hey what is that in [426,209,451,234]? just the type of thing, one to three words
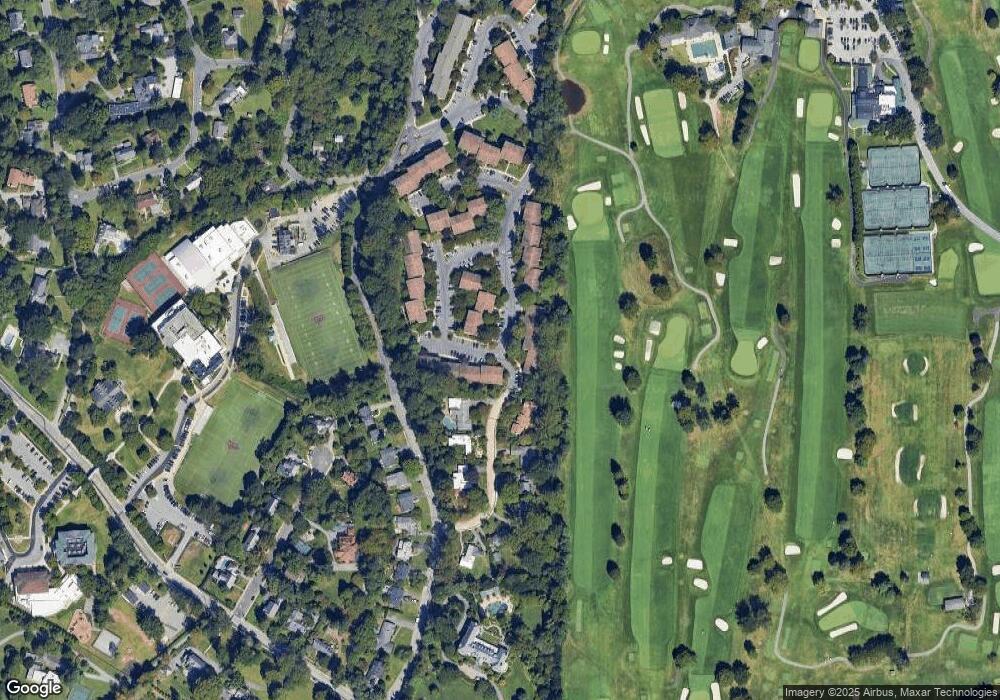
house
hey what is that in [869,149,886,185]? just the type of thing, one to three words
tennis court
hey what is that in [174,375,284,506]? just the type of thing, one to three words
sports field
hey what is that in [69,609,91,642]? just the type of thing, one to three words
playground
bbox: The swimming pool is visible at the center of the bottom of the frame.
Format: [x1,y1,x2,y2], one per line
[480,595,513,616]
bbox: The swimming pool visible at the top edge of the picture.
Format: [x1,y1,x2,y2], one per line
[686,32,725,62]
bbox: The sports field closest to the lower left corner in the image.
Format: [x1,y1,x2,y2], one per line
[105,603,156,664]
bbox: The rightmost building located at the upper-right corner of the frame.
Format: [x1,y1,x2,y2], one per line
[849,64,902,129]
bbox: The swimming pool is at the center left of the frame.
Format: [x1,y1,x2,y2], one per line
[1,326,18,349]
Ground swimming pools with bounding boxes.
[686,32,725,62]
[480,595,513,616]
[1,326,18,349]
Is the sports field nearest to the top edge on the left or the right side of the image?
left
